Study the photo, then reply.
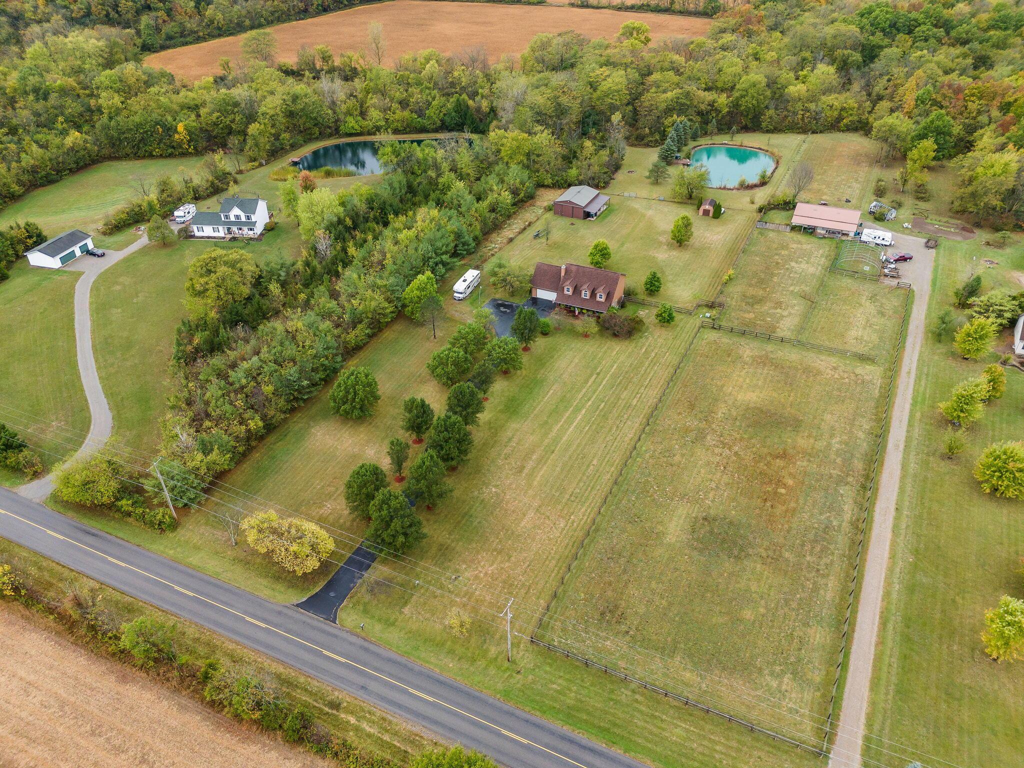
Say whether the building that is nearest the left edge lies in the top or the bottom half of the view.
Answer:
top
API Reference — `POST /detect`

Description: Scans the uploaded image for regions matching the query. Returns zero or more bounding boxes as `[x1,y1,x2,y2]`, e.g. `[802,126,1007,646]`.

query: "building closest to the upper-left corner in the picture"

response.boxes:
[27,228,95,269]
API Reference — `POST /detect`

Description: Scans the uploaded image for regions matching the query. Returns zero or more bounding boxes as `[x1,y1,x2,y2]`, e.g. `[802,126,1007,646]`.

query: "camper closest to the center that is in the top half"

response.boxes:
[453,267,481,299]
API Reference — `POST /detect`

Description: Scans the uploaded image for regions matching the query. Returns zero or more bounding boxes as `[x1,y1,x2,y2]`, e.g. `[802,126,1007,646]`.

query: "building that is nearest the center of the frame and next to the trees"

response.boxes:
[534,263,636,322]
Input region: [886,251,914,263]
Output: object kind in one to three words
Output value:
vehicle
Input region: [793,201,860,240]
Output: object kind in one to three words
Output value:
building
